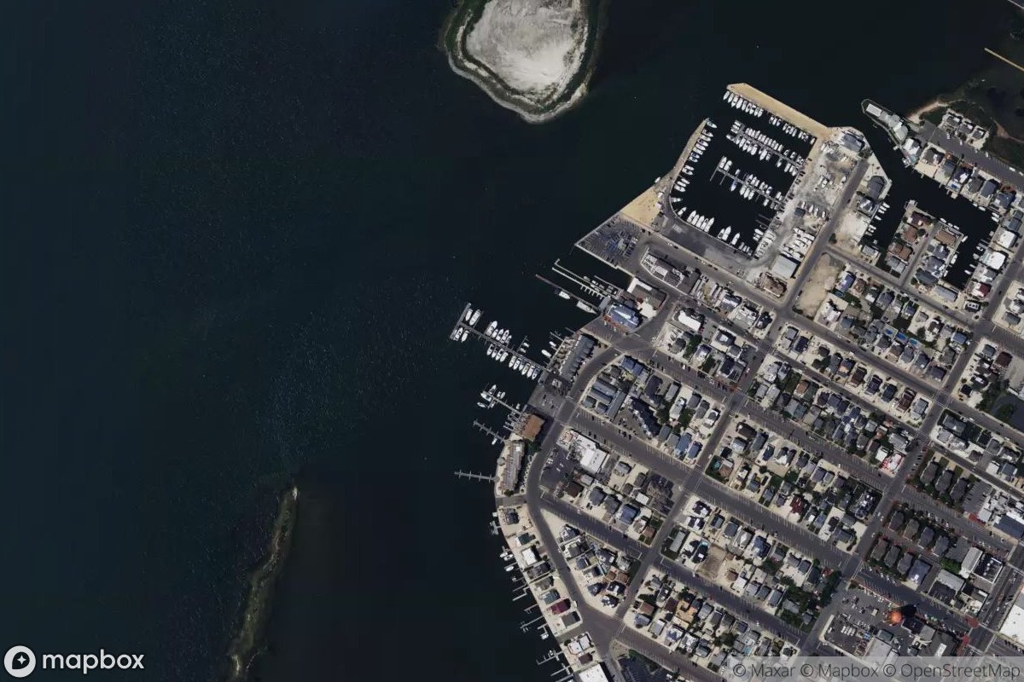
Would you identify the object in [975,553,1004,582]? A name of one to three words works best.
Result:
building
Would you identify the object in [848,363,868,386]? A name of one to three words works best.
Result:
house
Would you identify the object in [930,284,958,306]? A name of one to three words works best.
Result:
house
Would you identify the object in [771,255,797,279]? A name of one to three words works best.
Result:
shed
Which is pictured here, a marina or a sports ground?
marina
